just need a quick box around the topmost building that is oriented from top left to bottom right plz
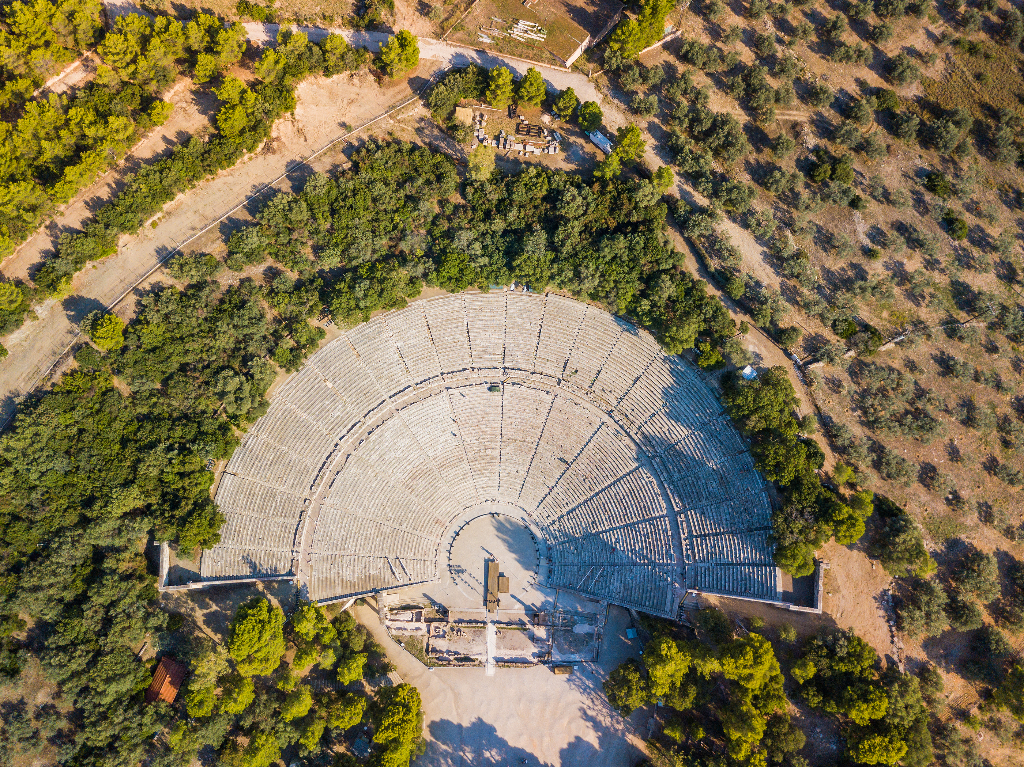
[497,0,588,69]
